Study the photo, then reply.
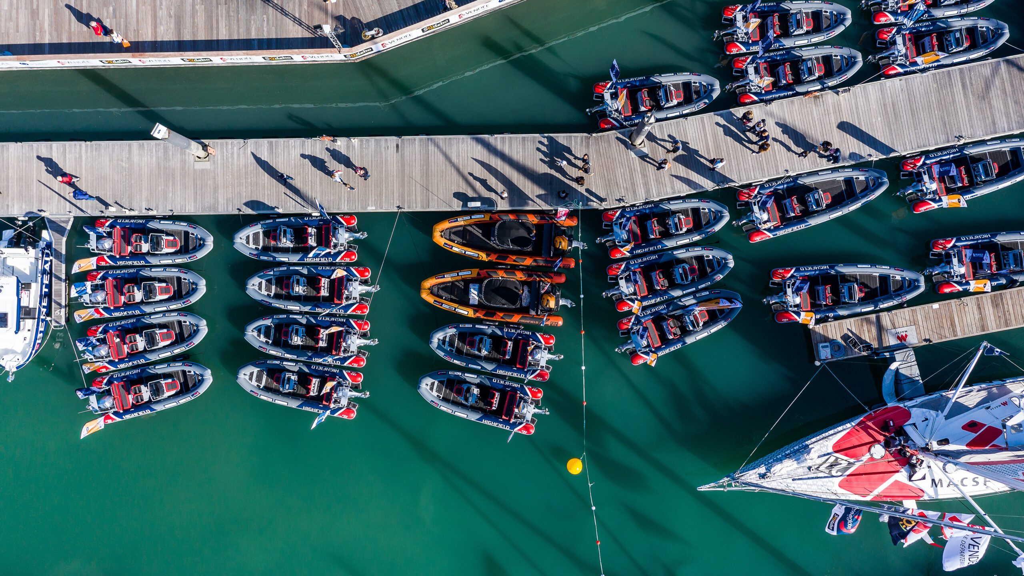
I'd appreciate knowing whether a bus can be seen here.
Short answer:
No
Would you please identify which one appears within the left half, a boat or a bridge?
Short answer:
boat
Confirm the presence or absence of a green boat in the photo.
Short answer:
No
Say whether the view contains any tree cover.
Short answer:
No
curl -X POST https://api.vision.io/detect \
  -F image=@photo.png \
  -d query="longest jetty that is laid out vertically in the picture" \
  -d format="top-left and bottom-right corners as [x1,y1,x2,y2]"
[45,216,79,331]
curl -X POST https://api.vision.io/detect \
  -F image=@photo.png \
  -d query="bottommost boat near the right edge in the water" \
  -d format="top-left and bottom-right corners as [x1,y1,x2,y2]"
[698,343,1024,576]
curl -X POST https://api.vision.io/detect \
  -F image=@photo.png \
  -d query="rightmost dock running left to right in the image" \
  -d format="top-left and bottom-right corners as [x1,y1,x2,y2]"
[805,286,1024,367]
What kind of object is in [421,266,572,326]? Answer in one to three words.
boat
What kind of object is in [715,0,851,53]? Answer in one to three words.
boat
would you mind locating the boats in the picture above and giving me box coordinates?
[615,293,746,366]
[862,0,983,23]
[764,262,925,325]
[896,139,1024,211]
[80,312,209,373]
[429,322,560,384]
[421,266,572,326]
[602,248,736,314]
[80,361,215,437]
[245,314,376,367]
[0,215,52,389]
[733,166,890,240]
[924,229,1024,293]
[72,218,214,273]
[234,204,365,263]
[247,265,378,316]
[597,198,731,257]
[869,9,1009,76]
[71,267,207,323]
[433,212,584,270]
[416,371,546,441]
[726,40,863,103]
[715,0,851,53]
[698,343,1024,576]
[588,63,721,129]
[238,360,368,428]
